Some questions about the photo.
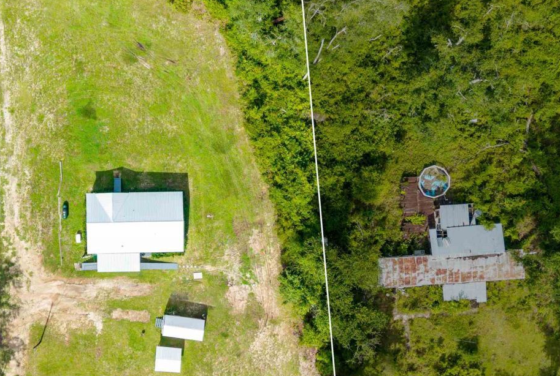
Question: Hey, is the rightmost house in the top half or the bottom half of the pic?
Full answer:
The rightmost house is in the bottom half of the image.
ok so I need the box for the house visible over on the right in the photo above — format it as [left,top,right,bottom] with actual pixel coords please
[374,204,536,304]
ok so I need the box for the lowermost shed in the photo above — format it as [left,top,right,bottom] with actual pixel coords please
[155,345,182,373]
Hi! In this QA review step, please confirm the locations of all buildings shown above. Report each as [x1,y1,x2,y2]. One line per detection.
[374,204,536,304]
[82,178,184,273]
[160,314,205,342]
[155,345,182,373]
